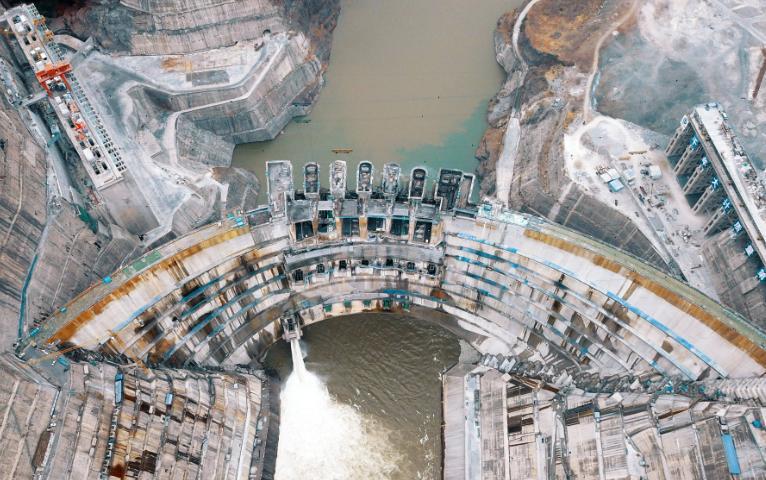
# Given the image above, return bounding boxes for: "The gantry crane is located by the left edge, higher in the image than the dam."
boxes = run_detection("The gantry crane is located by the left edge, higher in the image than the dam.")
[26,58,75,101]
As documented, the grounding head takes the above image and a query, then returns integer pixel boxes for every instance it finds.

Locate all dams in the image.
[22,160,766,386]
